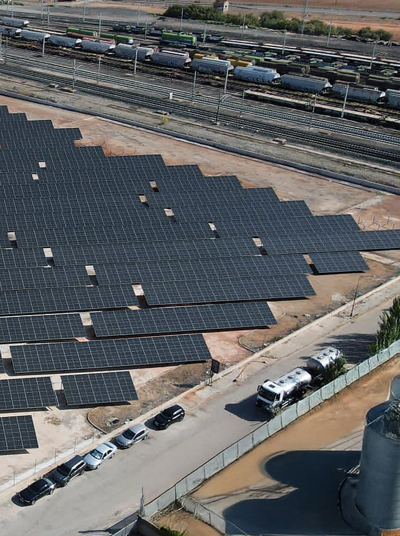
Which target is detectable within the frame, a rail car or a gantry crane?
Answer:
rail car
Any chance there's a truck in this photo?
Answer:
Yes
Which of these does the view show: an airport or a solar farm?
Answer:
solar farm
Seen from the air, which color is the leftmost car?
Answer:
black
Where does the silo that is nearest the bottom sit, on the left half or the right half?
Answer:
right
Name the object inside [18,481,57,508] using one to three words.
car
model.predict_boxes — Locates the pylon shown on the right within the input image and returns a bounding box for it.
[297,0,310,34]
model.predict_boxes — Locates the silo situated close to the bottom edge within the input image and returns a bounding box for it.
[328,394,400,536]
